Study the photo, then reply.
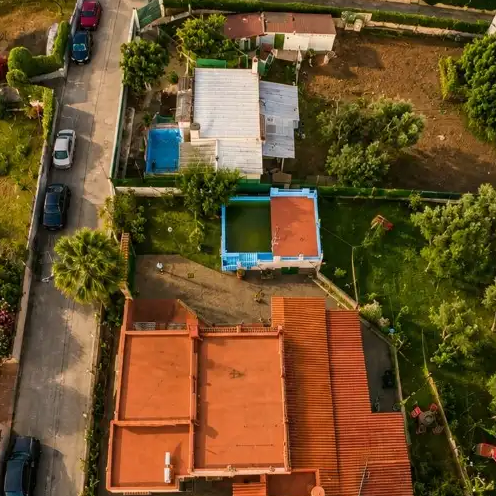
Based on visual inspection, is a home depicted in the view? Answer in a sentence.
Yes, the picture does show a home.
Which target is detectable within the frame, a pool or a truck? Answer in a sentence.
Of the two, only a pool appears.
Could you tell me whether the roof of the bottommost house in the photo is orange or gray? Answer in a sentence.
From above, the roof of the bottommost house appears orange.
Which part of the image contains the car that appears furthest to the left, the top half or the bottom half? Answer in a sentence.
The bottom half of the photo is where the car that appears furthest to the left is.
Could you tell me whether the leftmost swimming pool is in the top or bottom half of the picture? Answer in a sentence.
The leftmost swimming pool sits in the top half of the picture.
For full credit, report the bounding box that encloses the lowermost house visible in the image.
[107,297,413,496]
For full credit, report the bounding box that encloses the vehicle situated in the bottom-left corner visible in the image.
[5,442,39,496]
